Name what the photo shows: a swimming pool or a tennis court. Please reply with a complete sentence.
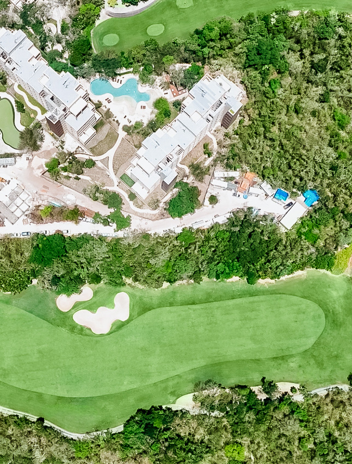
It is a swimming pool that can be seen here.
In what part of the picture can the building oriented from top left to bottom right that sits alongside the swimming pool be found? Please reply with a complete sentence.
The building oriented from top left to bottom right that sits alongside the swimming pool is located in the top left region of the scene.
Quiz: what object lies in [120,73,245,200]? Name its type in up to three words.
building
